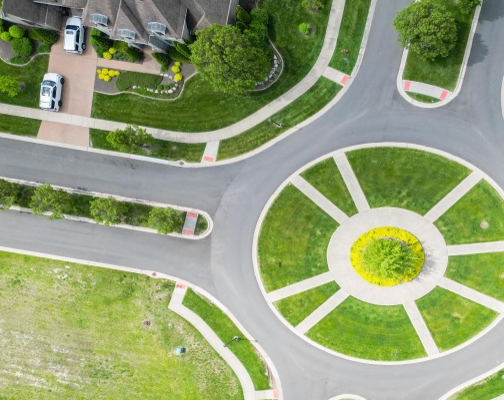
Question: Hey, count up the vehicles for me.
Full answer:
The number of vehicles here is 2.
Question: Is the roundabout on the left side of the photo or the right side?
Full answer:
The roundabout appears in the right half of the scene.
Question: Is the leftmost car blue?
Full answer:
No, the color of the leftmost car is white.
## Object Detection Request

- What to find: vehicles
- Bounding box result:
[61,17,84,57]
[37,74,60,115]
